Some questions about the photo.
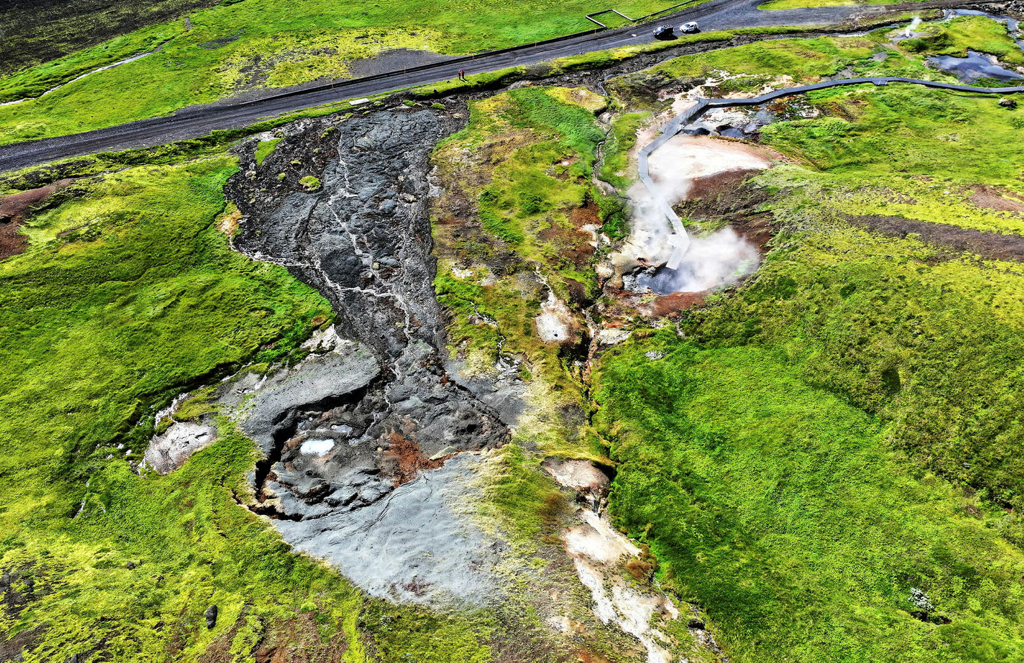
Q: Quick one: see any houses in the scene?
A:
No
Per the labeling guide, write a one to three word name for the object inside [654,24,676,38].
car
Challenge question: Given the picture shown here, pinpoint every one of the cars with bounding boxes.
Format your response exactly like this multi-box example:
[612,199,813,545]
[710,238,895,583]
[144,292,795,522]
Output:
[680,22,701,33]
[654,24,676,38]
